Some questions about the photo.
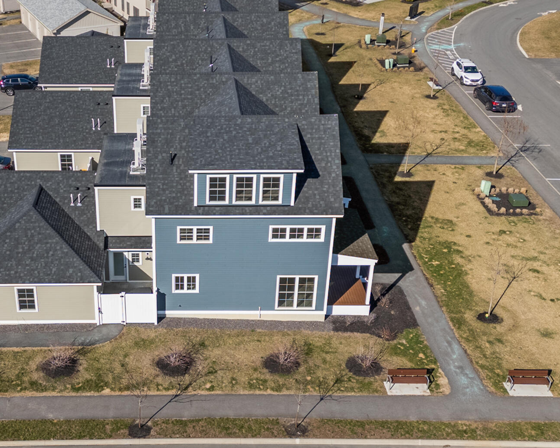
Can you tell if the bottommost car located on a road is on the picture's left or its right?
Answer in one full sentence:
The bottommost car located on a road sits on the right side.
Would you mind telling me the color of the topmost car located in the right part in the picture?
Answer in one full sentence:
From above, the topmost car located in the right part appears white.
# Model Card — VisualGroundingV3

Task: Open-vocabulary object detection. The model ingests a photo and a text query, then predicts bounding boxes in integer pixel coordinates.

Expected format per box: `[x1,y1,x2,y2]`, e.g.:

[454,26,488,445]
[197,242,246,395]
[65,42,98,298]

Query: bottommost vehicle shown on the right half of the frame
[472,83,517,112]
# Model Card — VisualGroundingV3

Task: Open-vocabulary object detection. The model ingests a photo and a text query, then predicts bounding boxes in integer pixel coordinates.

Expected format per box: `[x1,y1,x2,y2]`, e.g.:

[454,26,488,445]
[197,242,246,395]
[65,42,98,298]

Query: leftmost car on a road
[449,56,488,86]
